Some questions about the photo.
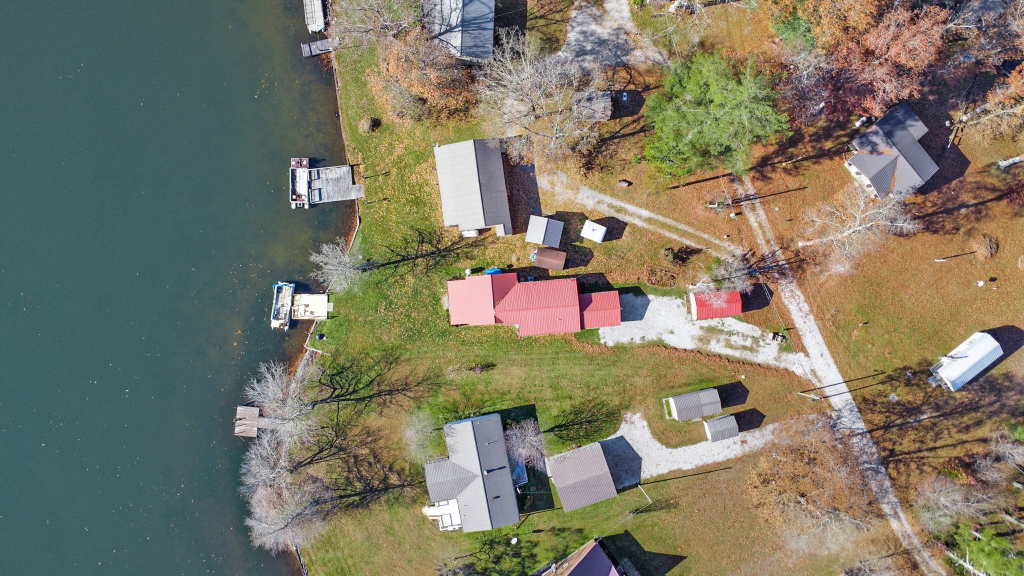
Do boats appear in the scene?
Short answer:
Yes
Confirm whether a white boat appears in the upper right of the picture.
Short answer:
No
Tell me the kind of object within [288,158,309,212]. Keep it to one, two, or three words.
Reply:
boat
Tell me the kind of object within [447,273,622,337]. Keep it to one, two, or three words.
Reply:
house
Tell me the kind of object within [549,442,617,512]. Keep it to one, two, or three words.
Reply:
building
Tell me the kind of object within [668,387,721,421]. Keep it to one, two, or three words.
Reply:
shed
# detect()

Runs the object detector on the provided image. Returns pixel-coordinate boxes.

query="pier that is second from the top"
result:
[306,164,364,205]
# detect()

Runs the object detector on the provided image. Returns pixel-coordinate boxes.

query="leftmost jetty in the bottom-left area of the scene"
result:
[231,405,286,438]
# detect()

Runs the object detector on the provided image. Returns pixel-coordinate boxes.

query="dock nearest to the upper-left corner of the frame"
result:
[300,38,337,59]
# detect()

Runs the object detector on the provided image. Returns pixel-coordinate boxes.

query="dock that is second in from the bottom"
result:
[290,293,334,320]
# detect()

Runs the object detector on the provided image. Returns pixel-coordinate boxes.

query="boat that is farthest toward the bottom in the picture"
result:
[269,280,296,333]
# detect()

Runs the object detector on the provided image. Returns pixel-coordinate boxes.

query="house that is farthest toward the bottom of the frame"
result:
[542,540,621,576]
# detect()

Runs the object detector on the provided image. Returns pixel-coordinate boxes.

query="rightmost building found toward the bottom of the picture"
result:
[929,333,1004,394]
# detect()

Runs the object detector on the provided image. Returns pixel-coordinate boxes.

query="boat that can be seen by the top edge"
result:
[303,0,327,38]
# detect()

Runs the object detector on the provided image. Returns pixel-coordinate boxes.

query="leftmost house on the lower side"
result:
[425,413,520,532]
